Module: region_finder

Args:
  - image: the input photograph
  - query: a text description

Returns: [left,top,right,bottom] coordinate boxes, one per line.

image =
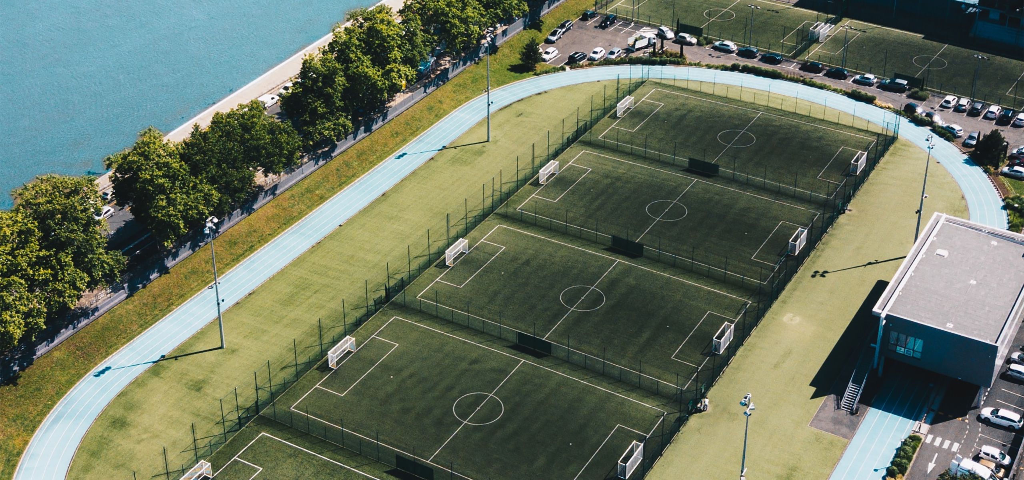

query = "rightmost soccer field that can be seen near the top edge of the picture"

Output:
[789,15,1024,116]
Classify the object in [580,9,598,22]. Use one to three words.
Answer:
vehicle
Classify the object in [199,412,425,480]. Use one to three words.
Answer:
soccer field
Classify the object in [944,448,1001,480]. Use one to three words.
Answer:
van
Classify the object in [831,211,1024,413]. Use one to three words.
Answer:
building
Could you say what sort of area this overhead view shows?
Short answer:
sports ground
